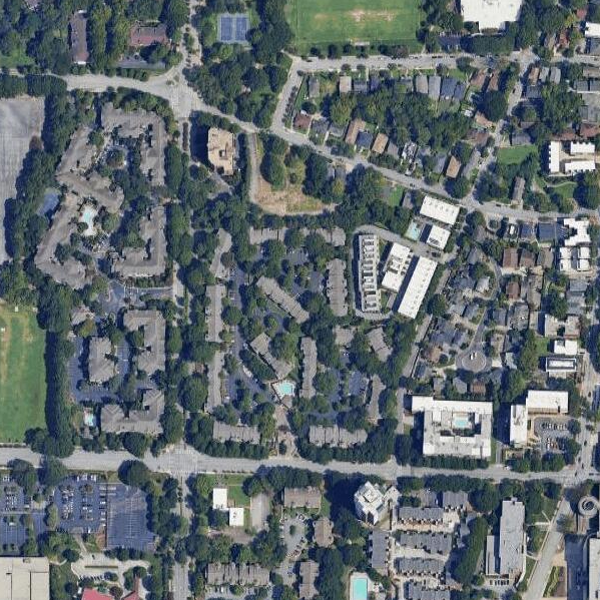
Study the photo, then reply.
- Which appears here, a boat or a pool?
pool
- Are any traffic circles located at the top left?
No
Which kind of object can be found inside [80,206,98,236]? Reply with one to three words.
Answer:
swimming pool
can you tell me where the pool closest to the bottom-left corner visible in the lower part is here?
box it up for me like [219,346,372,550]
[82,407,96,426]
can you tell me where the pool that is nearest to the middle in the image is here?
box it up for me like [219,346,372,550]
[274,379,297,398]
